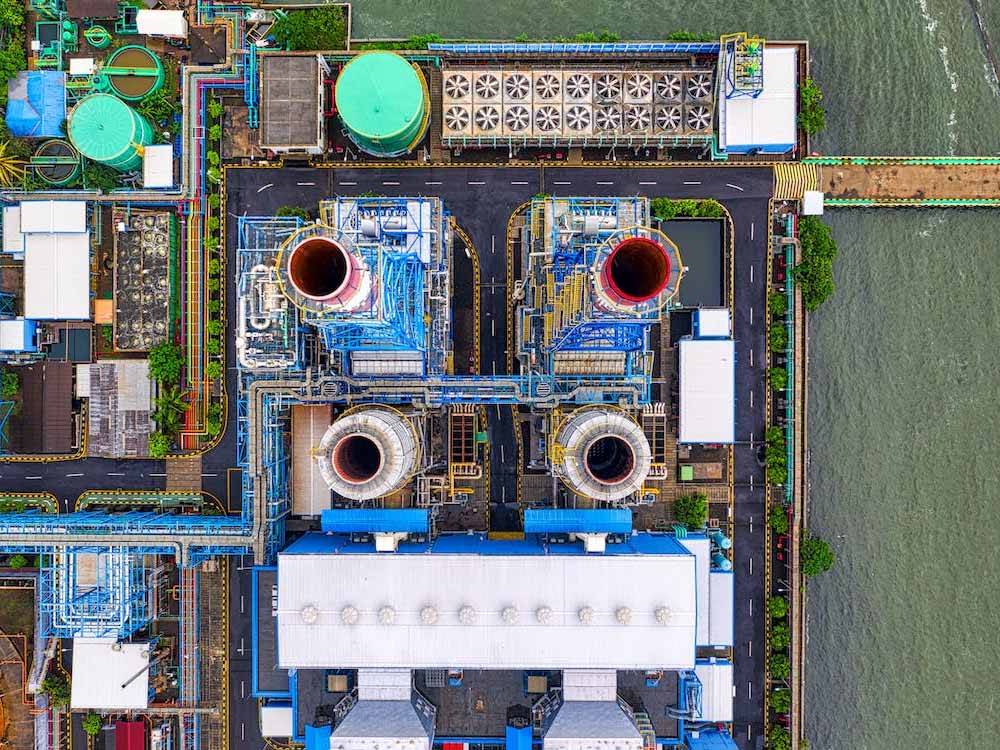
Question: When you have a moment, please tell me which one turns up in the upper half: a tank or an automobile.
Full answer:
The one visible in the upper half is a tank.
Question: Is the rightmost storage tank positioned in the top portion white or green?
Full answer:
From above, the rightmost storage tank positioned in the top portion appears green.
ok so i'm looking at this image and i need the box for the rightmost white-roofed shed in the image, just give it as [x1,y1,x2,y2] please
[797,191,823,217]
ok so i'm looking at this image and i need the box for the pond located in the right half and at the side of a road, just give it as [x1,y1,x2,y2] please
[660,217,727,307]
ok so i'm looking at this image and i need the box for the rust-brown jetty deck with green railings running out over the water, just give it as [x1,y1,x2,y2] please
[803,157,1000,206]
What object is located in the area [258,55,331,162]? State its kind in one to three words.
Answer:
building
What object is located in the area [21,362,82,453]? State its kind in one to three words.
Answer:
shed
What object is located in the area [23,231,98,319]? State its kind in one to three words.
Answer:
building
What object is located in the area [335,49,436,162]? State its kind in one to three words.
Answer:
storage tank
